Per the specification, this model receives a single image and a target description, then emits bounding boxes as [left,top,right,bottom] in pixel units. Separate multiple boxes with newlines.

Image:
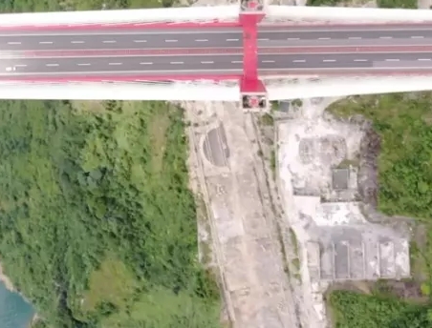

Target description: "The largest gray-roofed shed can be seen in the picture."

[332,169,350,190]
